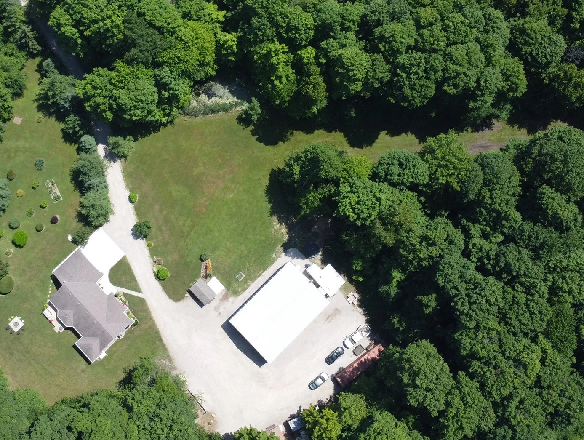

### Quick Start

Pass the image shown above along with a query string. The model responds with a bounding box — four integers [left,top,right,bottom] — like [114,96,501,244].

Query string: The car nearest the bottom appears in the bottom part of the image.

[307,371,331,393]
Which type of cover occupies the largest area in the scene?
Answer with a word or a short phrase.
trees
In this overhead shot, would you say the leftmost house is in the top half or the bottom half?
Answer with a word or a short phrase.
bottom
